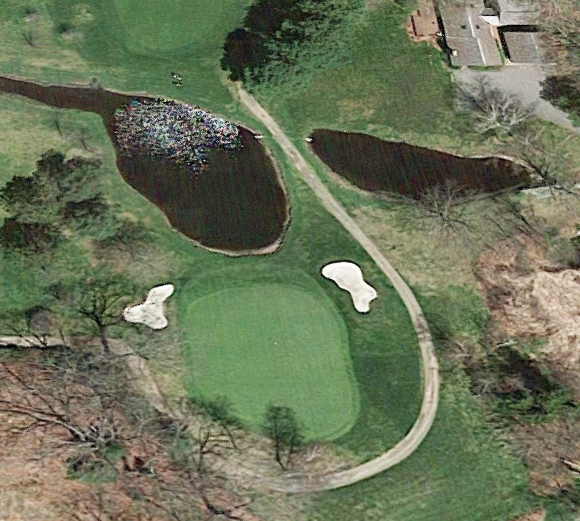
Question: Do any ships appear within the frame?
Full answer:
No, no ship is visible in the scene.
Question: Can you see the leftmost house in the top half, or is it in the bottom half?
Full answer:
The top half of the photo is where the leftmost house is.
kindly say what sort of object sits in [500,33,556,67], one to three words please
building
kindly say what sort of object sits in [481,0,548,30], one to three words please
house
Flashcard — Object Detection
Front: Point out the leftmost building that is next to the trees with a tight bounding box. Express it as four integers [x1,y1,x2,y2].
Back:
[428,0,503,70]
